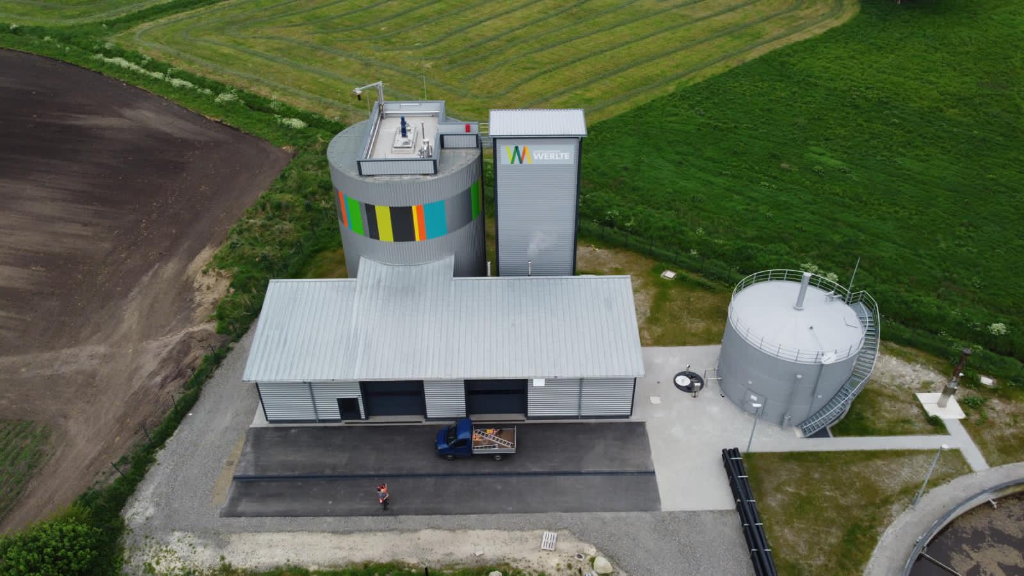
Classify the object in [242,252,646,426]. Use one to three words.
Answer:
building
